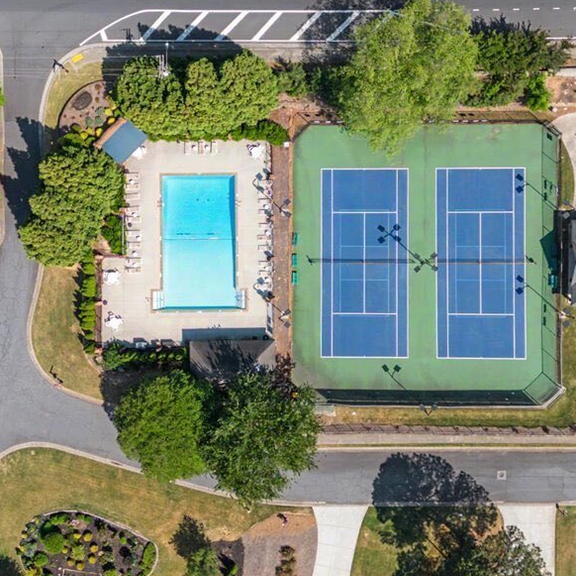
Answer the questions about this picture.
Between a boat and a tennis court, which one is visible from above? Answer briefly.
tennis court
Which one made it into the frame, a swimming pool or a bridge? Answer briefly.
swimming pool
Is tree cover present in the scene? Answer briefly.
Yes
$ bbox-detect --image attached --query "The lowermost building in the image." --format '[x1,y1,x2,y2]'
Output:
[189,340,276,391]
